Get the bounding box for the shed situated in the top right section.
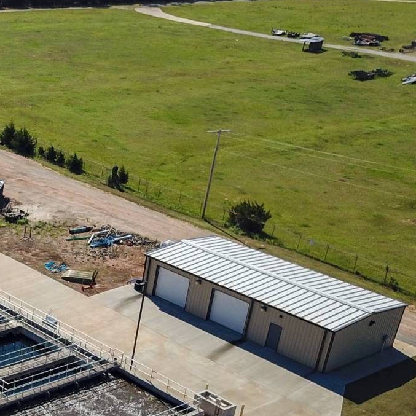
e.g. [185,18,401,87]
[300,37,333,52]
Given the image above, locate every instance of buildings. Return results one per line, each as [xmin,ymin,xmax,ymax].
[300,37,333,52]
[137,232,406,376]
